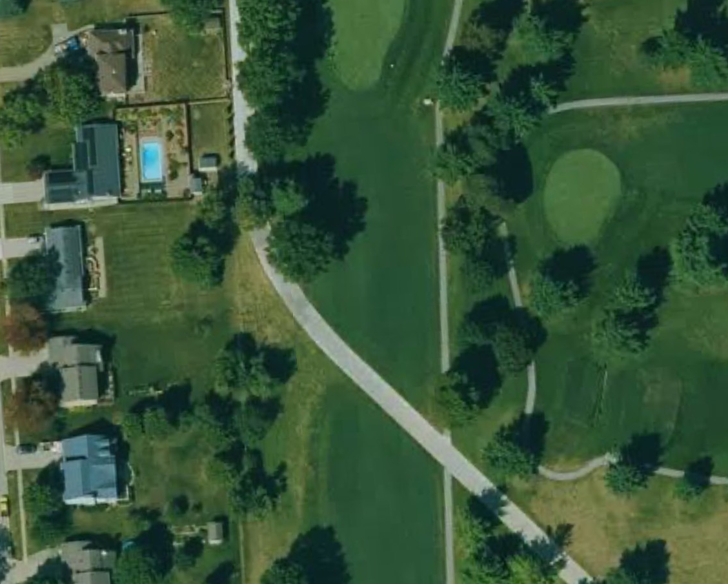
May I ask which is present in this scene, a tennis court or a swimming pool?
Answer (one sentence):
The image shows a swimming pool.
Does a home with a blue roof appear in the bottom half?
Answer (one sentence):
Yes, the scene does show a home with a blue roof in the bottom half.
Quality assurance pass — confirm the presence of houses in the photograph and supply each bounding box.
[60,539,116,584]
[62,434,131,504]
[91,28,135,101]
[45,121,121,208]
[49,335,114,407]
[46,224,85,313]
